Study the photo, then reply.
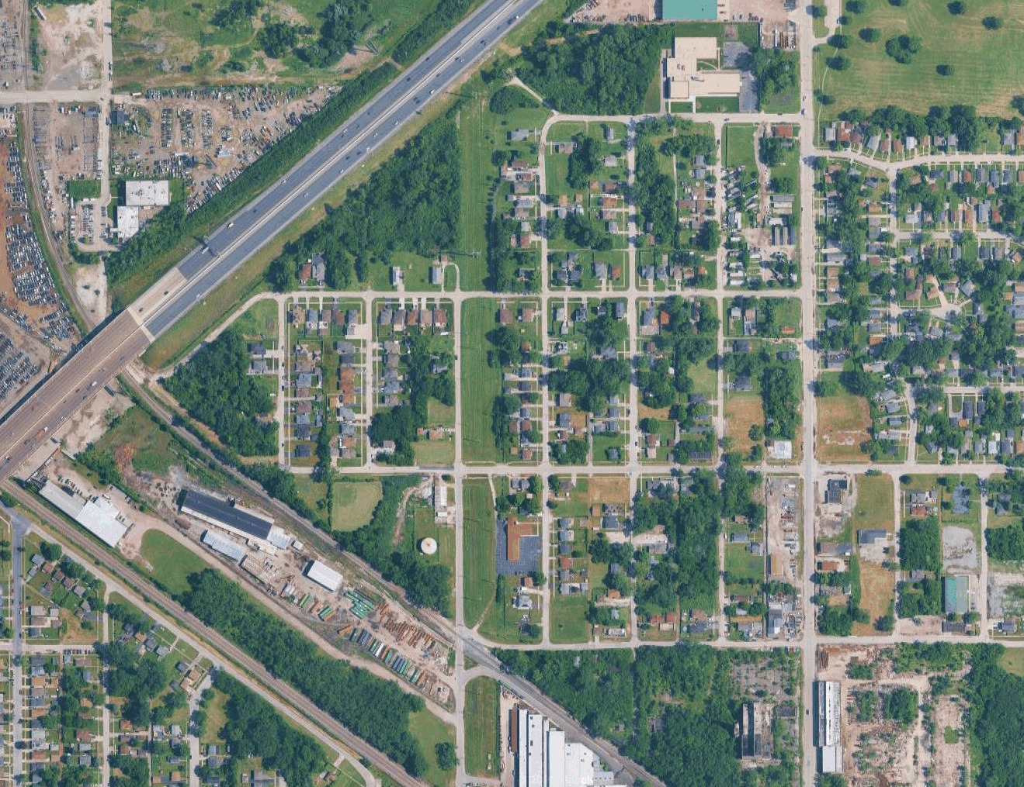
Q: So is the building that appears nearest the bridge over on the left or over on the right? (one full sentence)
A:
The building that appears nearest the bridge sits on the left side.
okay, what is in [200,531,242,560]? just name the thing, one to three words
shed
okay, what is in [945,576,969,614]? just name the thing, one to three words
building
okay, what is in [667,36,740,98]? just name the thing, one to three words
building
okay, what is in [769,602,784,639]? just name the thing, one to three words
shed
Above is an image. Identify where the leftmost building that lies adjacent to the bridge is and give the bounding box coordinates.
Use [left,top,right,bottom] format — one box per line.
[36,476,128,547]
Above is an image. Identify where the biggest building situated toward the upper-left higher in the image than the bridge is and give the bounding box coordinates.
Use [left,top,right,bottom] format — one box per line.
[110,180,169,240]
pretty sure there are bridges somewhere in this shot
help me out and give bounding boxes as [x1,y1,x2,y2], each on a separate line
[0,309,155,486]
